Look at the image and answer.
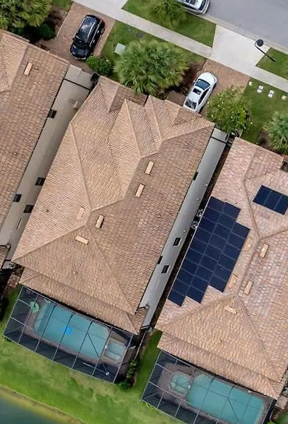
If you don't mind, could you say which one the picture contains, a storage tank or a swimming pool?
swimming pool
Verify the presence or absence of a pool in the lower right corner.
Yes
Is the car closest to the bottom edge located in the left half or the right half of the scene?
right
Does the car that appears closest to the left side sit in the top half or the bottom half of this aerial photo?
top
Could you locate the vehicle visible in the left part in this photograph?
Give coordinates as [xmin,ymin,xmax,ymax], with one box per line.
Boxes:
[72,11,106,62]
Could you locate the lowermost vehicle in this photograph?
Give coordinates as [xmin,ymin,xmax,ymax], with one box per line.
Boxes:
[183,70,217,115]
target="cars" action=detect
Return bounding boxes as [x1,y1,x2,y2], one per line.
[186,0,213,18]
[183,70,217,115]
[72,11,106,62]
